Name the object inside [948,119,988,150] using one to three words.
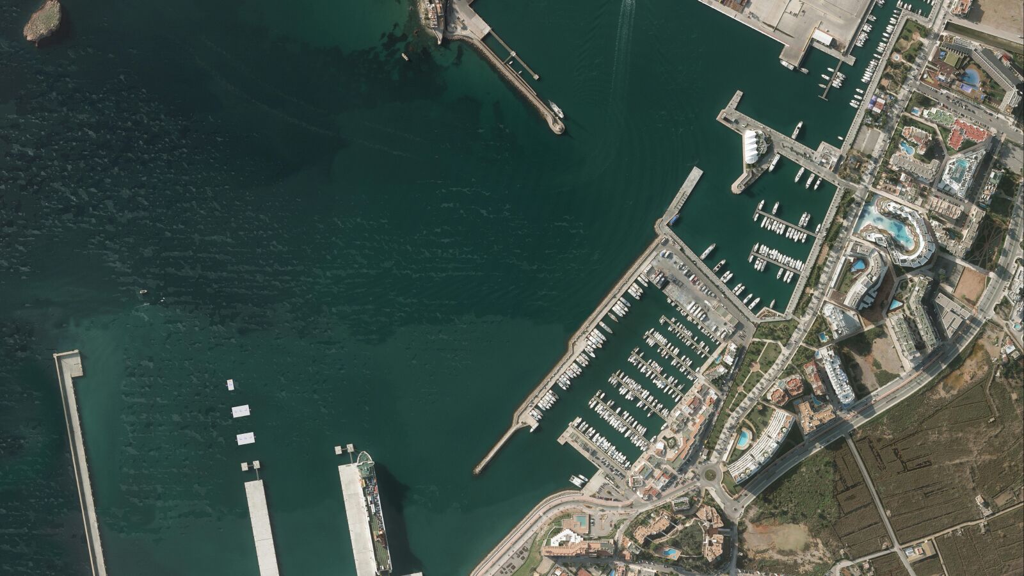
building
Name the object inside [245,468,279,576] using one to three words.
pier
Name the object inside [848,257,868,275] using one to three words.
swimming pool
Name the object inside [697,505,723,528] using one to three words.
building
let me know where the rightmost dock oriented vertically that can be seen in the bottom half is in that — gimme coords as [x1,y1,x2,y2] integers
[339,452,376,576]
